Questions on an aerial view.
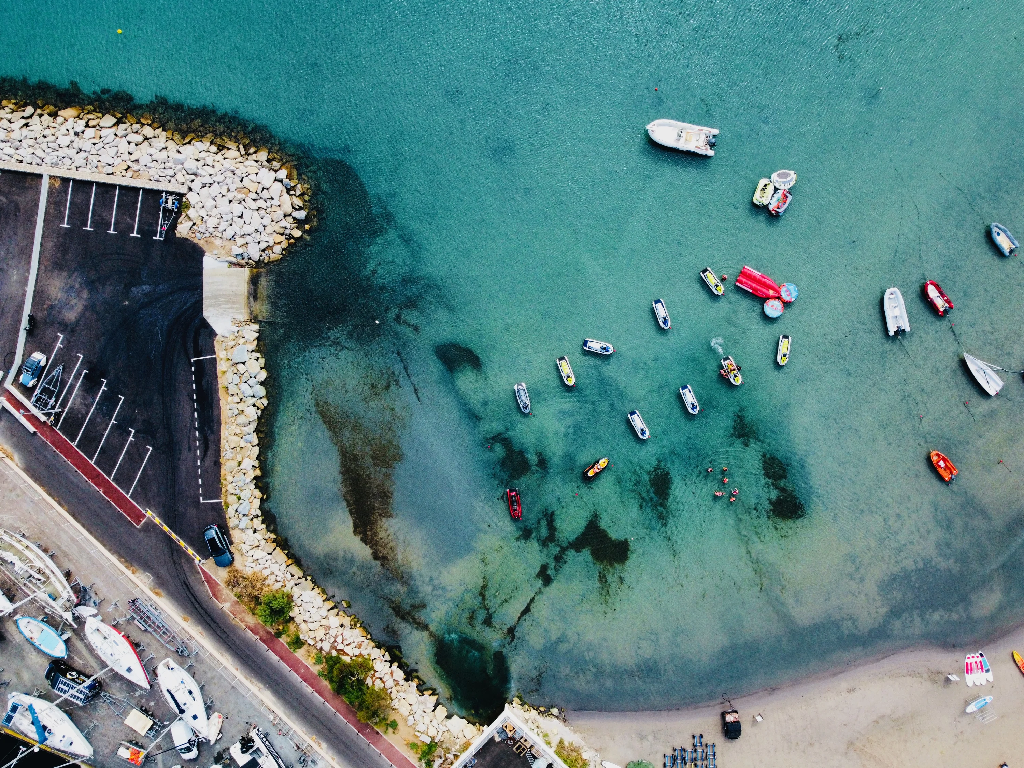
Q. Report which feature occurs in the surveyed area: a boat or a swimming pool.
boat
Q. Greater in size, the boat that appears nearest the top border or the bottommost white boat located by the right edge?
the boat that appears nearest the top border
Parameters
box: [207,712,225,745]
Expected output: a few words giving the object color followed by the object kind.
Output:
white boat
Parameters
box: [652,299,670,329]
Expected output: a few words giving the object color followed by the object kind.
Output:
white boat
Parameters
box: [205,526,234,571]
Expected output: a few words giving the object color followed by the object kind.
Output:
blue car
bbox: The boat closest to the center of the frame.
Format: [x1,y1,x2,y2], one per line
[515,383,531,413]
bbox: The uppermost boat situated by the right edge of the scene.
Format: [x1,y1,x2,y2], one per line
[990,221,1019,255]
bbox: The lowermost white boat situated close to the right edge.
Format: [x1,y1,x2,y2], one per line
[963,353,1015,394]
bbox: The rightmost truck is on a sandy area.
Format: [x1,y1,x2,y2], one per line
[721,706,743,739]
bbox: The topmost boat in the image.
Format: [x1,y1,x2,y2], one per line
[643,117,719,155]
